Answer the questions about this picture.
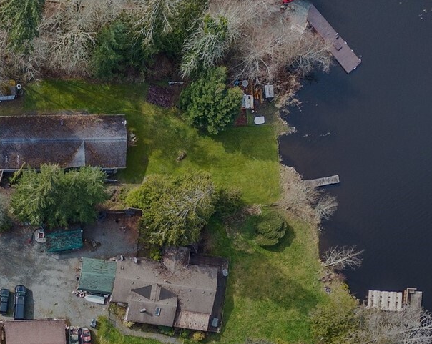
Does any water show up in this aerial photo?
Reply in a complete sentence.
Yes, there is water in the image.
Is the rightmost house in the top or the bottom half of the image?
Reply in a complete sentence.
The rightmost house sits in the bottom half of the picture.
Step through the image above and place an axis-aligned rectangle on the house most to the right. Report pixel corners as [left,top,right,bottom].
[109,247,232,333]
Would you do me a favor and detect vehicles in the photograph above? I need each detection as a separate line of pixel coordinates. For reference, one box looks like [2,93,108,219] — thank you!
[69,324,80,344]
[81,327,92,344]
[16,286,28,319]
[0,287,11,316]
[88,317,98,328]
